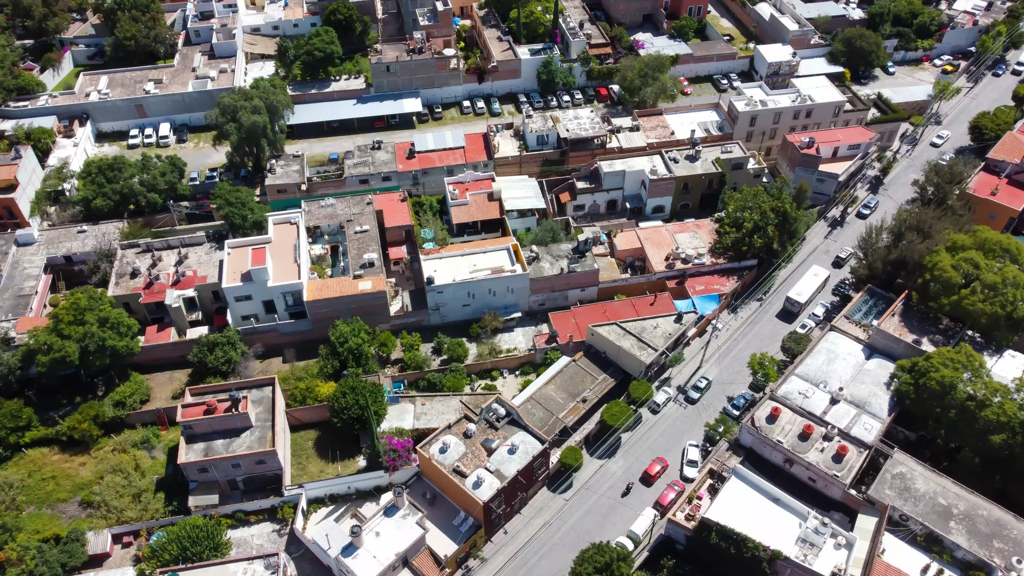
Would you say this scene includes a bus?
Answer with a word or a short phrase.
Yes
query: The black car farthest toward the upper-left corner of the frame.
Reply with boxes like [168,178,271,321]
[176,125,189,142]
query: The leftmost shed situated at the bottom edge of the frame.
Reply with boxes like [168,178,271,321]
[86,528,119,566]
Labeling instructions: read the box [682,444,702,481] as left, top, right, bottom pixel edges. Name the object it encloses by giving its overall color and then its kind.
white car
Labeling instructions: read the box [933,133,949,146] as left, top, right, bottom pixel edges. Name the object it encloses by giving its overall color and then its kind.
white vehicle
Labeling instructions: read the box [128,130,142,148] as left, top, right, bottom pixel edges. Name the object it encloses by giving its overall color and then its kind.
white car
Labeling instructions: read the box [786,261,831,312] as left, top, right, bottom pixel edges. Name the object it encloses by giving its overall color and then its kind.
white bus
